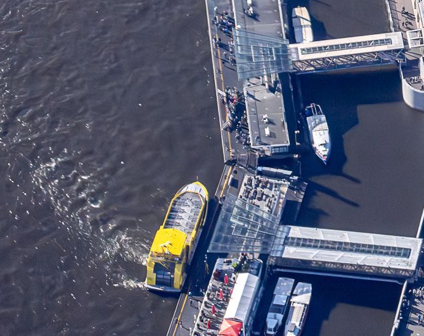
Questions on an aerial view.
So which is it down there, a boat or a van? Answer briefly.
boat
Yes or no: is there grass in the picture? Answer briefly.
No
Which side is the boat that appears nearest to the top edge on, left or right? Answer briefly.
right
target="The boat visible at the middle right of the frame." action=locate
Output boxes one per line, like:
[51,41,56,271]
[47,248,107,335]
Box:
[306,107,333,166]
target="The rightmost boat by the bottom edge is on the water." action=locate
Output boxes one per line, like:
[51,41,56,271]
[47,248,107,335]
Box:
[285,280,314,336]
